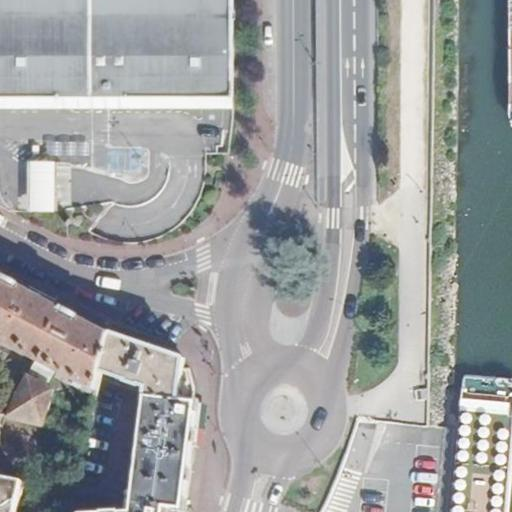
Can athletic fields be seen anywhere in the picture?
No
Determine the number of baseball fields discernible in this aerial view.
zero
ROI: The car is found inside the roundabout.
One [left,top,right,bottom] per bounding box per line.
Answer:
[312,406,326,430]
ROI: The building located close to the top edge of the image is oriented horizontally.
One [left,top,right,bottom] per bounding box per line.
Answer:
[0,0,234,111]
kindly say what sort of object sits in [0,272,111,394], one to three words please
house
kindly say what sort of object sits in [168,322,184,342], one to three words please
car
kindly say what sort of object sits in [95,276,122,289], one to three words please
vehicle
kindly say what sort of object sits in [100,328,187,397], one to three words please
building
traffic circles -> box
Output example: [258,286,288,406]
[221,347,346,479]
